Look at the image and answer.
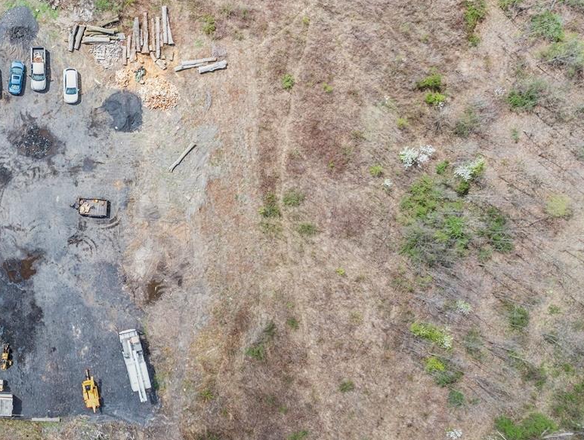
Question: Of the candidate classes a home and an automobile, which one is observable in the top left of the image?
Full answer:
Looking in the top left of the image, you will find an automobile.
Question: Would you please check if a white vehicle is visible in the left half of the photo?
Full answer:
Yes, a white vehicle can be seen in the left half of the photo.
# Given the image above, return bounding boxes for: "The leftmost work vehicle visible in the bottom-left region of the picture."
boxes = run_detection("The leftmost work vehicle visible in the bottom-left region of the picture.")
[0,343,13,368]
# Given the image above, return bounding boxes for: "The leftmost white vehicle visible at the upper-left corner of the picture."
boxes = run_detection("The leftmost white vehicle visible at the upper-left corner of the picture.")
[29,46,48,91]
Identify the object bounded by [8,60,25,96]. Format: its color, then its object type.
blue car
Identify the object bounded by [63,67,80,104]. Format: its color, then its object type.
white car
